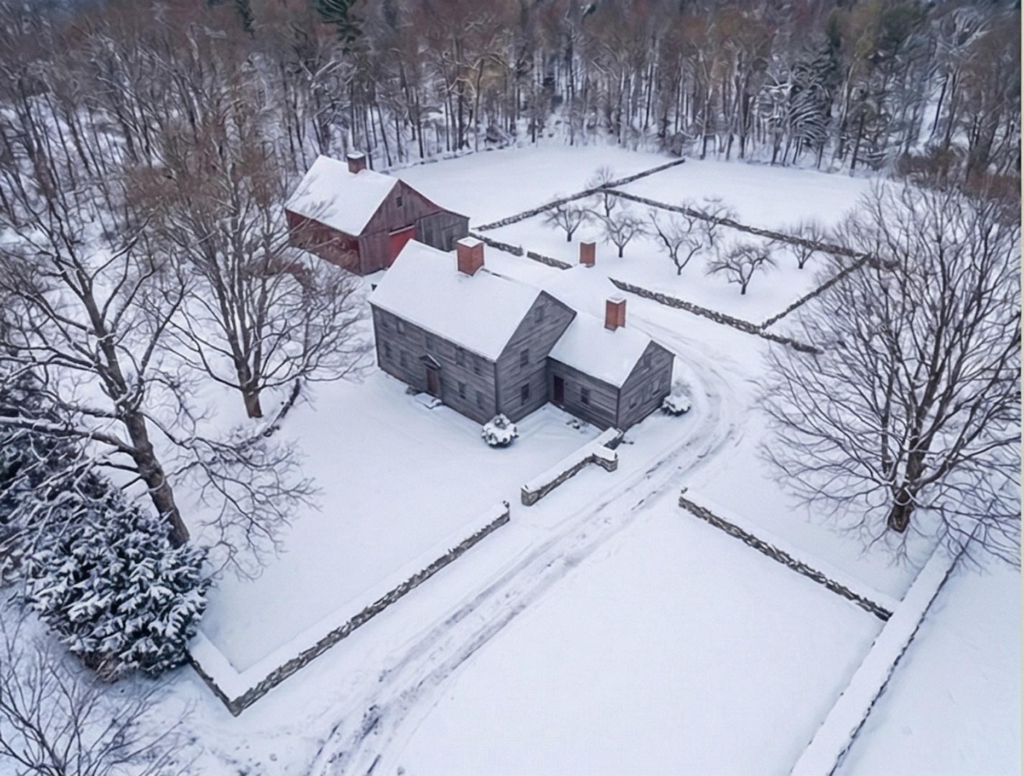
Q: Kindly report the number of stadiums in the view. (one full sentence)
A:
The picture shows no stadiums.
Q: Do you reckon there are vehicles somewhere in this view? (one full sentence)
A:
No, no vehicle can be seen from above.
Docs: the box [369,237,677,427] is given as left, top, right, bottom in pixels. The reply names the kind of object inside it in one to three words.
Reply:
house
